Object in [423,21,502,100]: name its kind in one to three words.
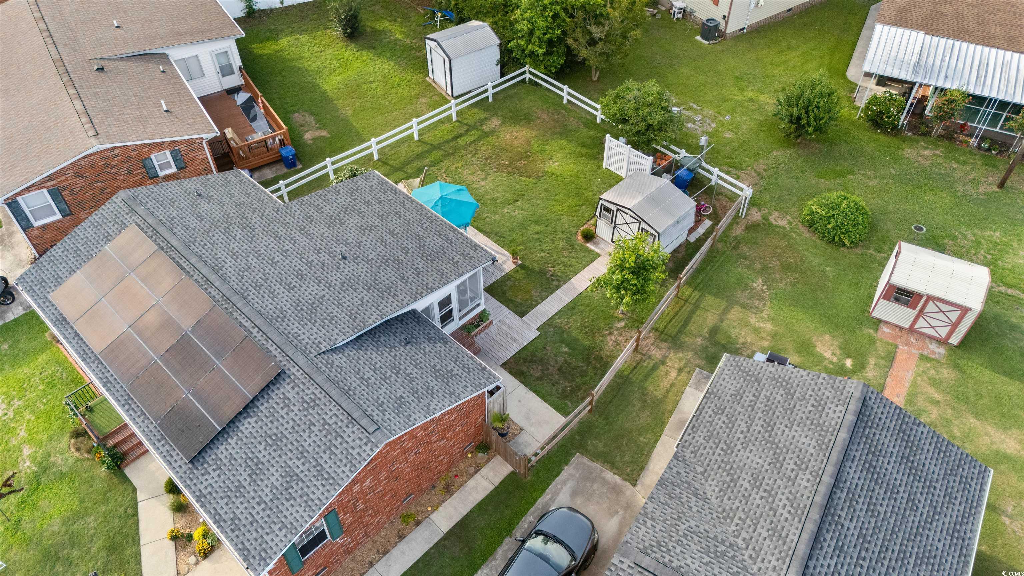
shed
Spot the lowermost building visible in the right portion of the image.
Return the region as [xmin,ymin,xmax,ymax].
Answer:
[605,355,998,576]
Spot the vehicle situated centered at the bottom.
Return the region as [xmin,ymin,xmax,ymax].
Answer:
[494,508,594,576]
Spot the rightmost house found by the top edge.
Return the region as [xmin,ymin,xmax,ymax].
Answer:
[854,0,1024,154]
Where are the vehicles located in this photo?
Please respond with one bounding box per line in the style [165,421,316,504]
[494,508,594,576]
[0,273,12,305]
